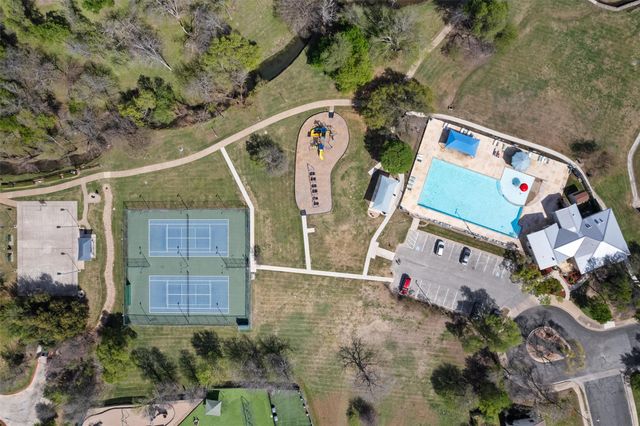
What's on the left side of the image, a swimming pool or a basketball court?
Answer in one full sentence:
You can see a basketball court on the left side of the image.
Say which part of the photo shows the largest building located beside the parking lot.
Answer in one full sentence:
You can find the largest building located beside the parking lot in the right area of the picture.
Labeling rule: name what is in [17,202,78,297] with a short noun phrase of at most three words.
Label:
basketball court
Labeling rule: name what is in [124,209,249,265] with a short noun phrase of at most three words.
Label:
tennis court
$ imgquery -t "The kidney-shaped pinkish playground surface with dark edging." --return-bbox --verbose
[295,111,349,214]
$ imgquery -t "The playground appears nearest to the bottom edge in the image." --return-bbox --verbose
[81,397,204,426]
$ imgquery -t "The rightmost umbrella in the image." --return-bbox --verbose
[511,152,530,171]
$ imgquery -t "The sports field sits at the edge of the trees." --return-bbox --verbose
[178,390,274,426]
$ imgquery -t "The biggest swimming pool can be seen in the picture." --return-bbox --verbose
[400,119,569,261]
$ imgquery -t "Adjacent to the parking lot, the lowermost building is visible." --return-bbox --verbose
[524,203,630,275]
